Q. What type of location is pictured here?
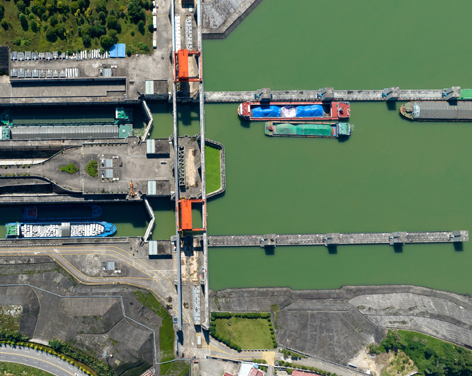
port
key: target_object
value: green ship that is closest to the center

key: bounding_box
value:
[264,121,352,137]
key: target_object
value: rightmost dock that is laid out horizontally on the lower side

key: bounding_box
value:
[207,231,472,247]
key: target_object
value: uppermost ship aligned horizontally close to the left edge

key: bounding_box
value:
[0,109,132,124]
